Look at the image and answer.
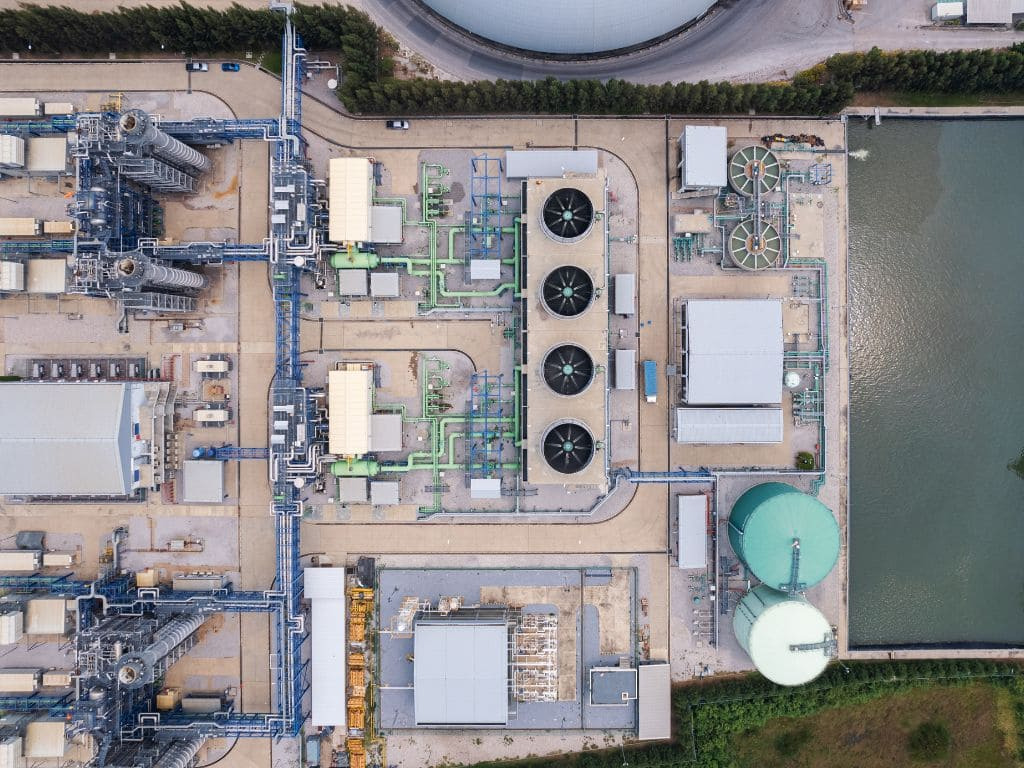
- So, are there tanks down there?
Yes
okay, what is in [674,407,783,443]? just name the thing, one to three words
shed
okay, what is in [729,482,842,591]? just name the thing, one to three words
storage tank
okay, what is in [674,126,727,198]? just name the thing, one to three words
building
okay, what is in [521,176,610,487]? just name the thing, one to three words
cooling tower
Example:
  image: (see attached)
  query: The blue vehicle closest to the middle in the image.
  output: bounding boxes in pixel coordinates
[642,360,657,403]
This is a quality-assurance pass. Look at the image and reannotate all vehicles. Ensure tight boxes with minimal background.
[642,360,657,403]
[220,61,240,71]
[385,119,408,128]
[184,61,207,71]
